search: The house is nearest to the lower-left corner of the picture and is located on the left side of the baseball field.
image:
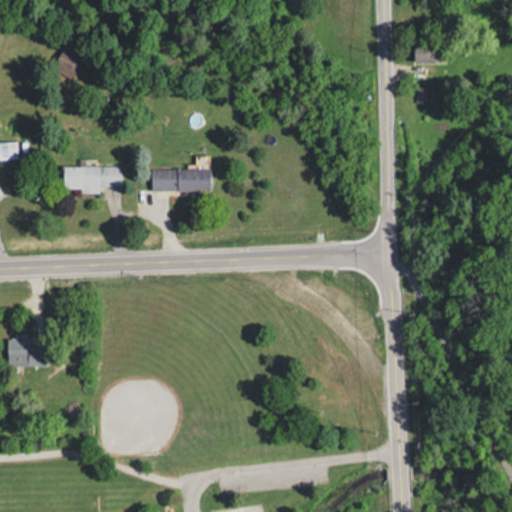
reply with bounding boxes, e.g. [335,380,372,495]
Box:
[8,336,49,374]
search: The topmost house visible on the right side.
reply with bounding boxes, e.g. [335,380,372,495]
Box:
[414,46,447,66]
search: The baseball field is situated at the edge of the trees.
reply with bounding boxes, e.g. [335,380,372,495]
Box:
[98,294,260,464]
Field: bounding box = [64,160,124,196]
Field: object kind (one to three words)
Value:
house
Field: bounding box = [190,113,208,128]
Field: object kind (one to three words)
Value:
swimming pool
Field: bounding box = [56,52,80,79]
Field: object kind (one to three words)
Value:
house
